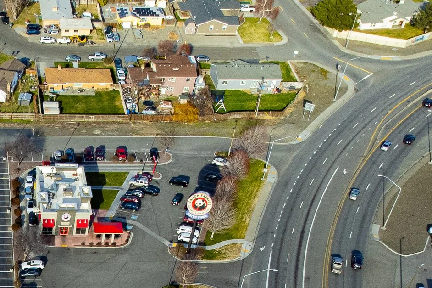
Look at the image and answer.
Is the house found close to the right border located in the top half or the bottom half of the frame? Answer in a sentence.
The house found close to the right border sits in the top half of the picture.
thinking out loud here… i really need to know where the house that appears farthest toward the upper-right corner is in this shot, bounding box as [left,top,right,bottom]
[354,4,421,32]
